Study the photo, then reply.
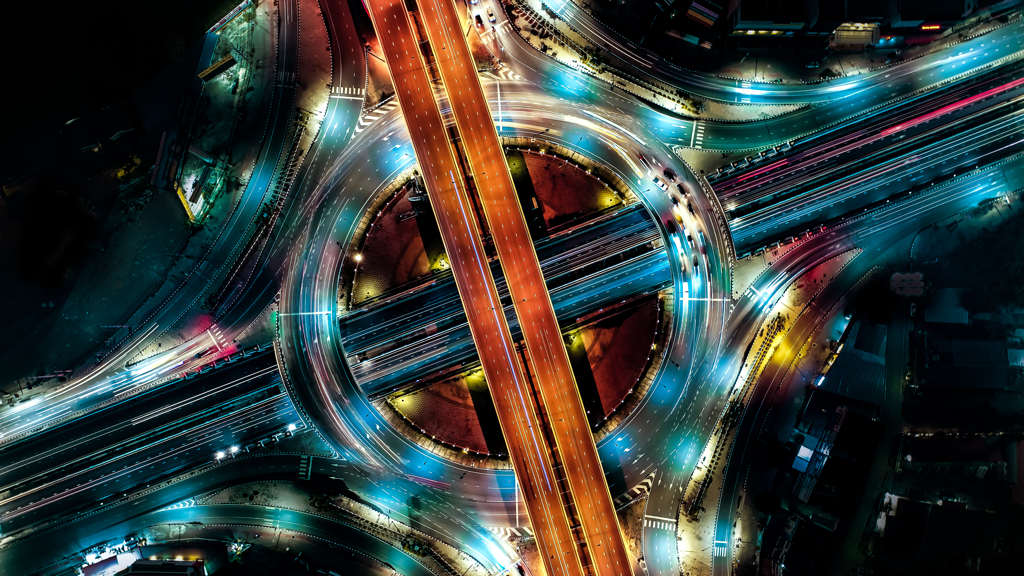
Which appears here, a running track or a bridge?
bridge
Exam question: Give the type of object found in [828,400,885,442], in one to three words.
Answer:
building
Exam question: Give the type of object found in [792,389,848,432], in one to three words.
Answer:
building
